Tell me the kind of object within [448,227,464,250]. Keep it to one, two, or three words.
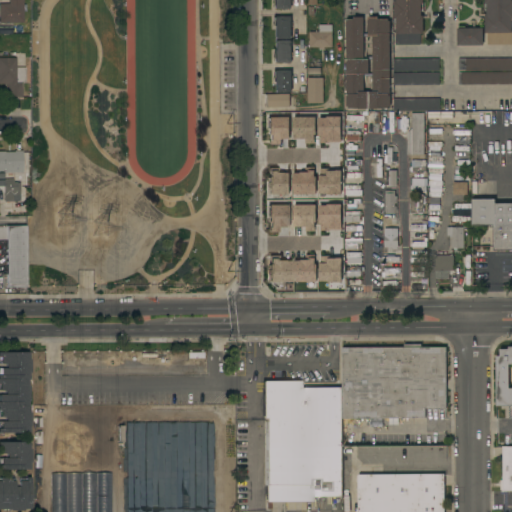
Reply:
building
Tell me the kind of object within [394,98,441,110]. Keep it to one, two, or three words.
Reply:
building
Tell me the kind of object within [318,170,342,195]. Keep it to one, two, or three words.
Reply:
house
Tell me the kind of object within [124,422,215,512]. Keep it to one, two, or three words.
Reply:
house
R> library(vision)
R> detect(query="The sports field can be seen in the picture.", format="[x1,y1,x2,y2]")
[136,0,187,176]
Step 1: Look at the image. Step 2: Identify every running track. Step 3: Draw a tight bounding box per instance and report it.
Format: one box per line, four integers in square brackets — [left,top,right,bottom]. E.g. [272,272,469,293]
[126,0,197,186]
